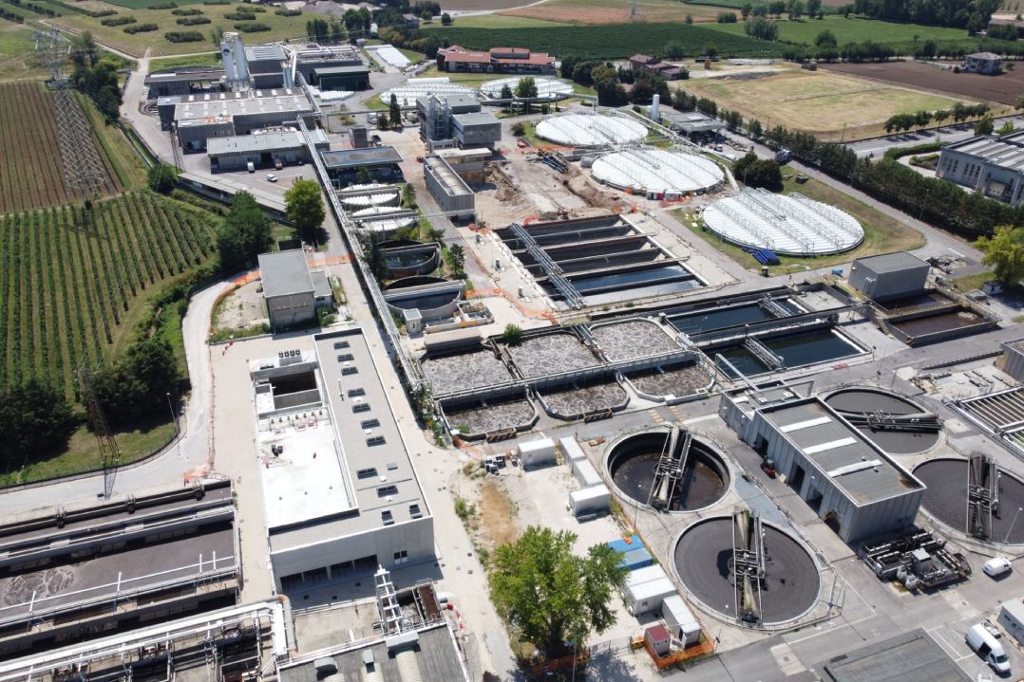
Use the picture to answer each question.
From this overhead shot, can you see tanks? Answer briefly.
Yes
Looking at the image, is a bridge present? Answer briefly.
Yes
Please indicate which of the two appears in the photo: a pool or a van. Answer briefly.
van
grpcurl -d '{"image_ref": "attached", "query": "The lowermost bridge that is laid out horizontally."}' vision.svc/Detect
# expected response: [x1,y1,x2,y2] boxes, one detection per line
[831,408,945,429]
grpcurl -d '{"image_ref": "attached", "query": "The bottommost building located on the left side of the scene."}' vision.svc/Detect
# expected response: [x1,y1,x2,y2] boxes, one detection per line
[309,615,470,682]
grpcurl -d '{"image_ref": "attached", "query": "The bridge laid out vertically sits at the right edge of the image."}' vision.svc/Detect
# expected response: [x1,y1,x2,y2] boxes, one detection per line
[961,451,993,550]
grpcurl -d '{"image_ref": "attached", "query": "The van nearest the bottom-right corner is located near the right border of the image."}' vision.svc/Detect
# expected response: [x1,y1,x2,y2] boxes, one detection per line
[964,624,1013,673]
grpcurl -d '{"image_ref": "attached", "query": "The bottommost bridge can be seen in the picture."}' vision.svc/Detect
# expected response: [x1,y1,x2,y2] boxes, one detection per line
[728,510,761,633]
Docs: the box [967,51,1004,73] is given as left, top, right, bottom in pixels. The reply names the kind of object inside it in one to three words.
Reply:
house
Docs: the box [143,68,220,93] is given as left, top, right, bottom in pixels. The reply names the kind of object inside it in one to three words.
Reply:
shed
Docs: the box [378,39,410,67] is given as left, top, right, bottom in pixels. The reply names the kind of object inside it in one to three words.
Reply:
greenhouse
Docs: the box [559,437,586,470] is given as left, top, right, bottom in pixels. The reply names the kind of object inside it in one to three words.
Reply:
building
